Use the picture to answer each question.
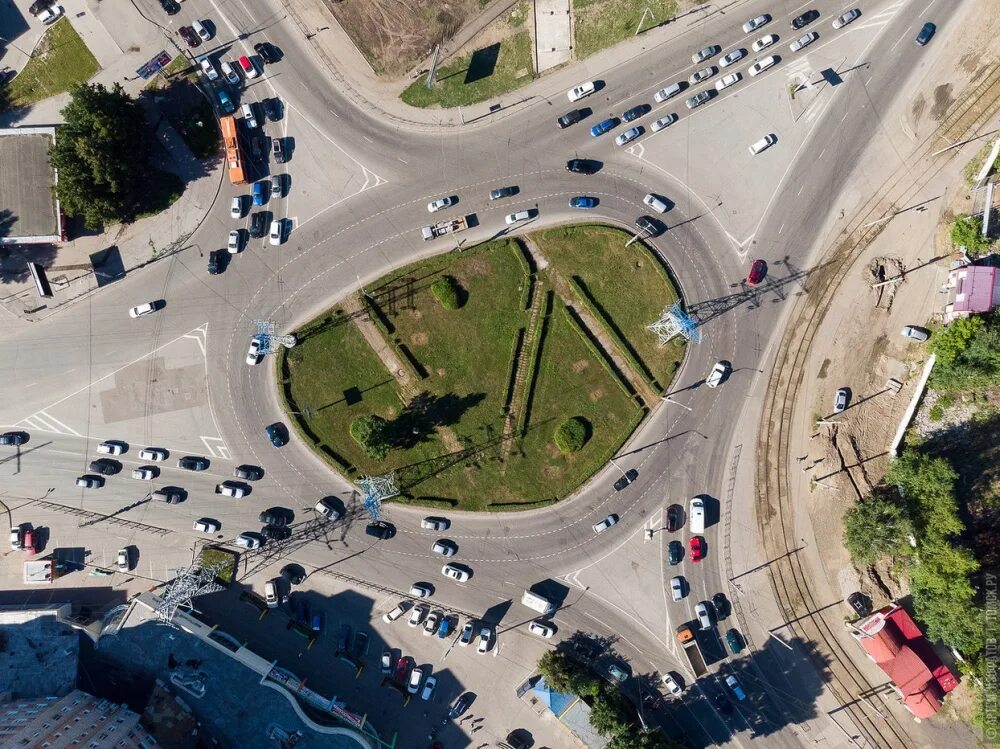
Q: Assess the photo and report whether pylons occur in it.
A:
Yes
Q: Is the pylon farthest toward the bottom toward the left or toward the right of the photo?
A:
left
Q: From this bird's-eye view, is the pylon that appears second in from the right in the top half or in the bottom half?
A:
bottom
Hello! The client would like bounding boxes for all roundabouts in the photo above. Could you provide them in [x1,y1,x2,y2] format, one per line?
[205,146,752,578]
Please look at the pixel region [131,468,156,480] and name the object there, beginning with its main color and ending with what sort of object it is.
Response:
white vehicle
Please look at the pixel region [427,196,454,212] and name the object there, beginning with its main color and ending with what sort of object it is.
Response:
white car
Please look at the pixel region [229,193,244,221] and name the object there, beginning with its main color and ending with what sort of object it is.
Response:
white car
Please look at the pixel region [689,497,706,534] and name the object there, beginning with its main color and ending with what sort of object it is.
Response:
white vehicle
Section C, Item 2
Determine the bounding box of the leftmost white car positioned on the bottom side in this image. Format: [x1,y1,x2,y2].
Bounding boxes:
[6,523,23,554]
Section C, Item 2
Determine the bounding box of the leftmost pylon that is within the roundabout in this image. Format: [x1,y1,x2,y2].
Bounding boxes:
[250,315,297,357]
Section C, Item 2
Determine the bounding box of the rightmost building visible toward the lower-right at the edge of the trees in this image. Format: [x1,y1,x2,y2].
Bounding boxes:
[842,587,961,716]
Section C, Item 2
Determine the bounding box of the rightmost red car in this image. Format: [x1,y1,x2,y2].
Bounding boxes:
[748,260,766,284]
